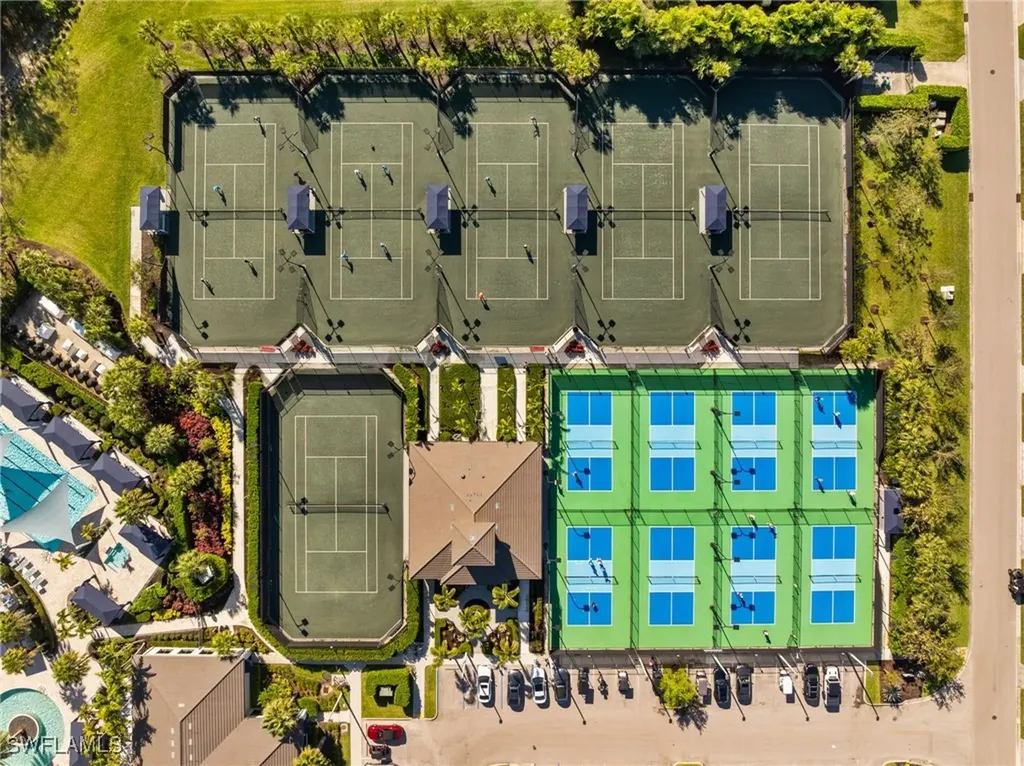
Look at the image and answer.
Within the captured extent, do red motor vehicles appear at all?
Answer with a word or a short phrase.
Yes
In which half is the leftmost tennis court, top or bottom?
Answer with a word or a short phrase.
top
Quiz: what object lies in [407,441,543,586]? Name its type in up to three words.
building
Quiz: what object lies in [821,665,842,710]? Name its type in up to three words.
truck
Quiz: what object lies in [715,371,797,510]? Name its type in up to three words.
sports court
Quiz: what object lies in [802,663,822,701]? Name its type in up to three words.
car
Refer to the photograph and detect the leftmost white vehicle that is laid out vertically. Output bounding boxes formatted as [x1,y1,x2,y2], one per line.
[476,665,493,703]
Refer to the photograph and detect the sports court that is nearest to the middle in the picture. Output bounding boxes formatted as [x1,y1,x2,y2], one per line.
[552,371,633,510]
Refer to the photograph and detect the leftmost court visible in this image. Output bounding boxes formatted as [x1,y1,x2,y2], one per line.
[172,77,304,346]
